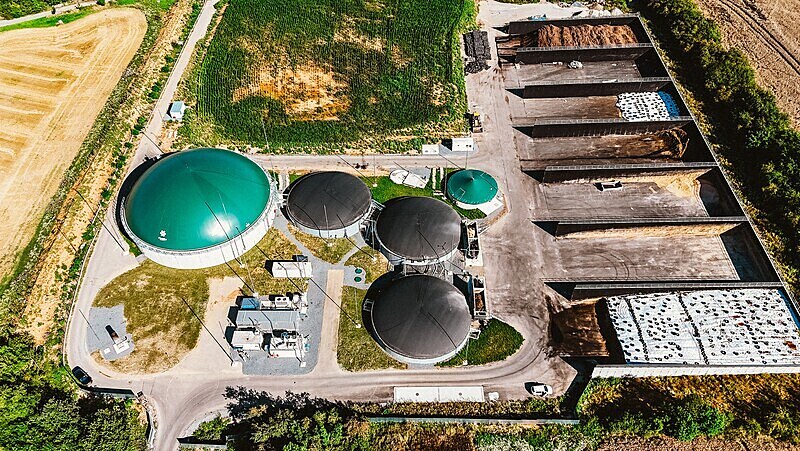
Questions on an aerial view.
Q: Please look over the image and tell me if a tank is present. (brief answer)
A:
Yes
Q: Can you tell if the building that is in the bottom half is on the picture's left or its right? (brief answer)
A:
left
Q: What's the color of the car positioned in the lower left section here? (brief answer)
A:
black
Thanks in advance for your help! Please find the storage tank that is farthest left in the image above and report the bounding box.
[120,143,277,268]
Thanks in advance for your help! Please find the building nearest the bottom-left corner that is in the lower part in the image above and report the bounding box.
[232,309,300,334]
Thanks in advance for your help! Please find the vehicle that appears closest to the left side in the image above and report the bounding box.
[69,367,89,387]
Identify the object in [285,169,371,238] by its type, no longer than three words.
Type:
storage tank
